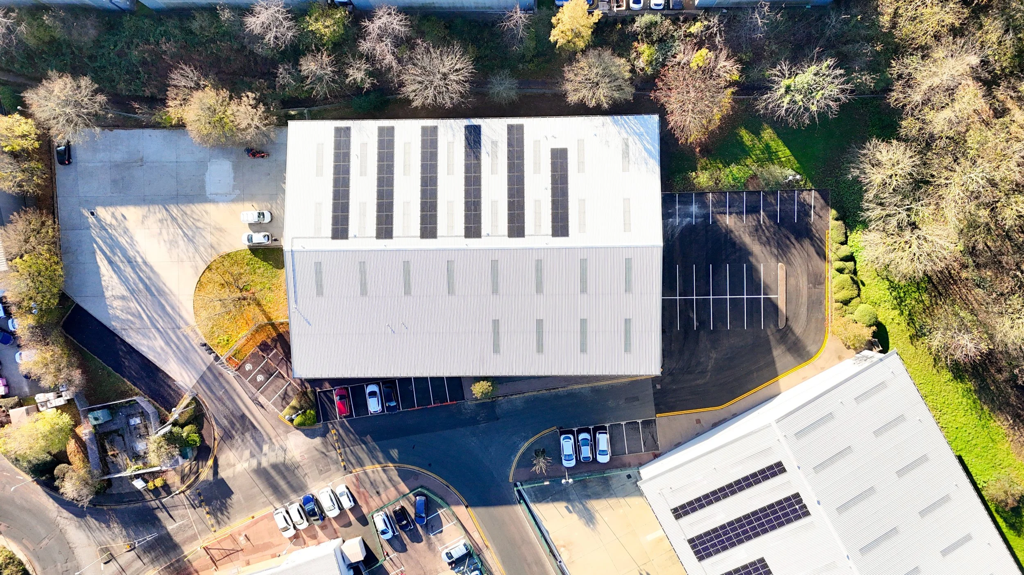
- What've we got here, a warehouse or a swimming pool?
warehouse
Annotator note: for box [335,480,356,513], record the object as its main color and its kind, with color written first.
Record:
white car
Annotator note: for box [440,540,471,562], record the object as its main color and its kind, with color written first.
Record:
white vehicle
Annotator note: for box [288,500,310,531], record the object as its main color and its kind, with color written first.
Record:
white car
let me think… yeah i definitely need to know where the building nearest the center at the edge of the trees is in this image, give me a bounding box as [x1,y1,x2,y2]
[284,112,662,380]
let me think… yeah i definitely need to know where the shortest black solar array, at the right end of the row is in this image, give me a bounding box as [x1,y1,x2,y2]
[550,148,569,236]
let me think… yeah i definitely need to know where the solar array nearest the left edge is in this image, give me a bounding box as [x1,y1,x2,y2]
[330,126,352,239]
